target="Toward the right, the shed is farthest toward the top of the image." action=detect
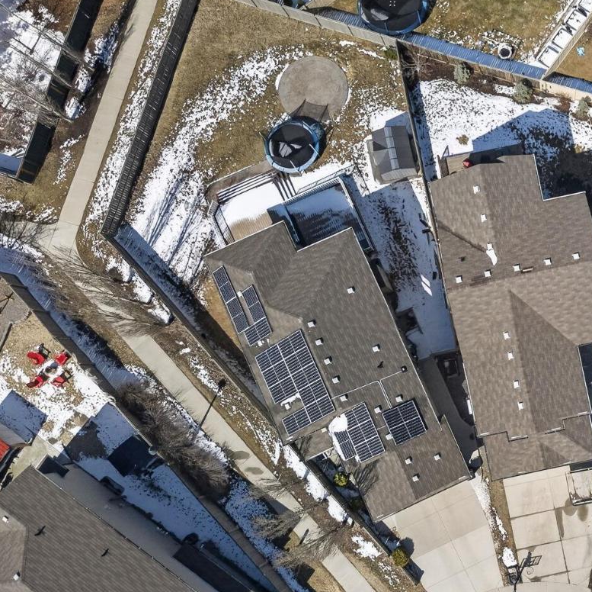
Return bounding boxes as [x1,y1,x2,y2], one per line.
[369,126,416,182]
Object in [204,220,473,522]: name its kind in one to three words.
house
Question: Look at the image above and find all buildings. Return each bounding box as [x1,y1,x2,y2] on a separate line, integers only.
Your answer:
[204,220,473,522]
[369,126,416,182]
[429,154,592,480]
[0,463,269,592]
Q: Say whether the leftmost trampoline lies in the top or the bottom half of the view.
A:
top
